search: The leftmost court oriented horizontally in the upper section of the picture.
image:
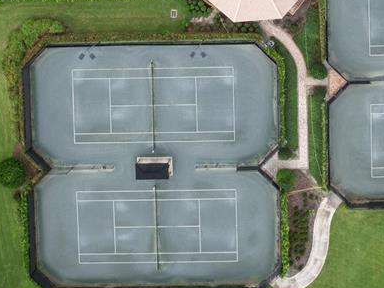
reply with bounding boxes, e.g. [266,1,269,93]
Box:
[30,44,278,168]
